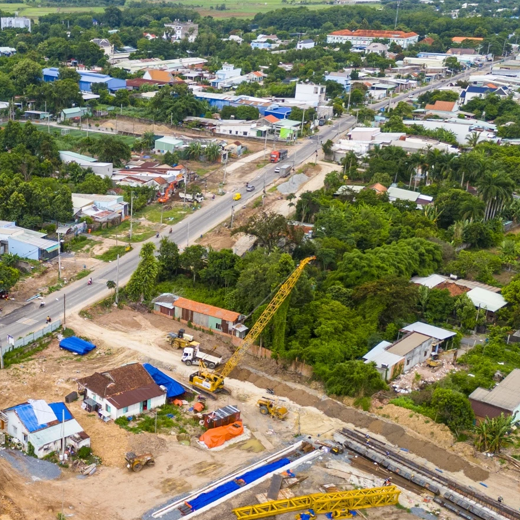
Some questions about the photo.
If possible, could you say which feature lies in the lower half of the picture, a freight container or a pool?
freight container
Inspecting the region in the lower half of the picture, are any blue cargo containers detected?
No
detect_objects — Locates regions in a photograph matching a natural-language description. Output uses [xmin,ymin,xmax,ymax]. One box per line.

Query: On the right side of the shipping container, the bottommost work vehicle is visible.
[258,395,293,422]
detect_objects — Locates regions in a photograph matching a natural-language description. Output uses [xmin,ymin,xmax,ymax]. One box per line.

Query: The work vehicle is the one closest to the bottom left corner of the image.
[127,452,155,471]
